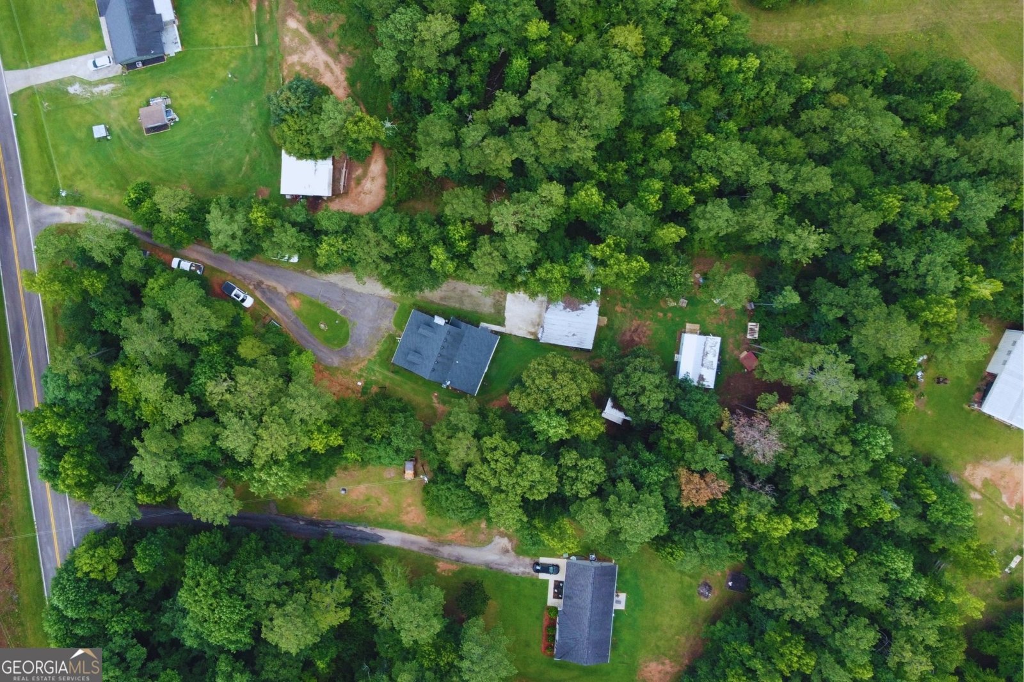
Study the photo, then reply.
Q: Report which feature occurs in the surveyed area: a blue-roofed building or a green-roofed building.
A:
blue-roofed building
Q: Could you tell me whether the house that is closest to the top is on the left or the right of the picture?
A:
left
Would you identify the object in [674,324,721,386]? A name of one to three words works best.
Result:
house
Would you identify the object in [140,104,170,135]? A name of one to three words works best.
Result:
shed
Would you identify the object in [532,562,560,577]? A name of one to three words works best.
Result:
car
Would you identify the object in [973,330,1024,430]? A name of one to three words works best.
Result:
house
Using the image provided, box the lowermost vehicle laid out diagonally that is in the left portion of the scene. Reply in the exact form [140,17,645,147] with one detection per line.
[220,280,253,308]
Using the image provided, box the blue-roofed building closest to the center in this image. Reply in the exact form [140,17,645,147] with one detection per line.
[392,309,500,396]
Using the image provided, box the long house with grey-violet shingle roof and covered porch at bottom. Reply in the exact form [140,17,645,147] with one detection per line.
[554,560,617,665]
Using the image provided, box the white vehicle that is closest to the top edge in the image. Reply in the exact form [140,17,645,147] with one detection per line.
[85,53,113,70]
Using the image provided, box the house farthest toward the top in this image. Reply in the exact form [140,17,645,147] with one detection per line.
[95,0,174,73]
